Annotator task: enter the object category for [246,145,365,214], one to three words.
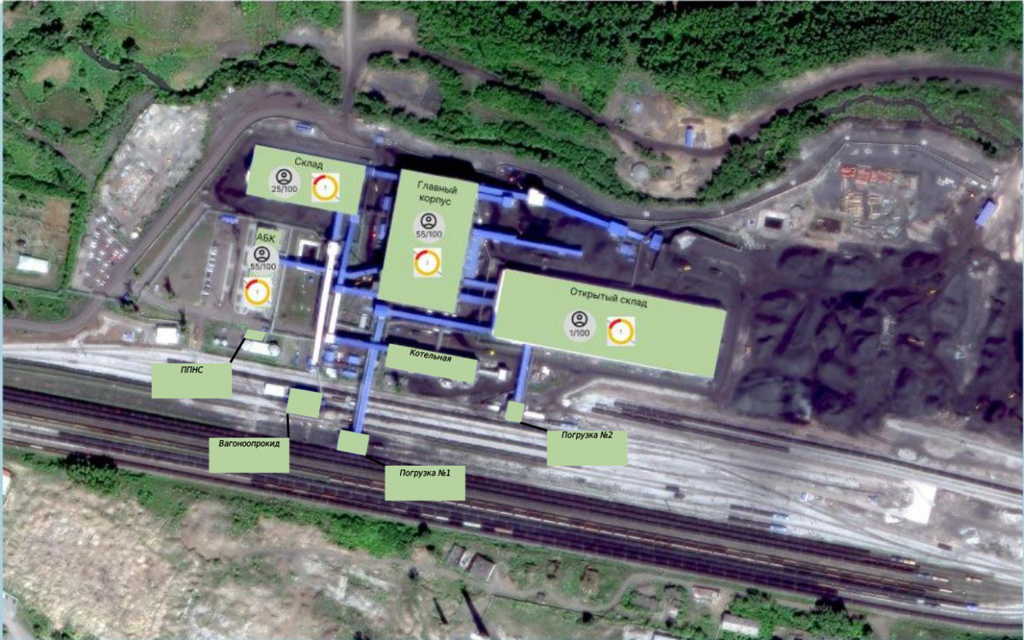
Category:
building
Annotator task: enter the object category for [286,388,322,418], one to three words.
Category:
building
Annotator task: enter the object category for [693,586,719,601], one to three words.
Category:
house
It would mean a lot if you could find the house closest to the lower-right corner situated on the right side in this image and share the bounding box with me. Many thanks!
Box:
[721,611,759,635]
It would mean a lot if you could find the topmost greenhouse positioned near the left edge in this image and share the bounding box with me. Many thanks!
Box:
[17,256,49,273]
